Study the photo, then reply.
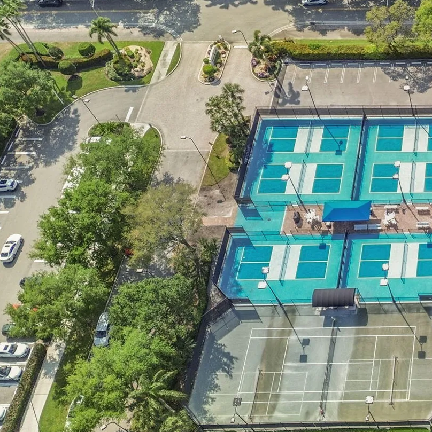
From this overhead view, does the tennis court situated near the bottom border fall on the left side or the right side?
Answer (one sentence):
The tennis court situated near the bottom border sits on the right side.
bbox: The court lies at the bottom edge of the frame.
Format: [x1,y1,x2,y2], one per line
[189,303,432,426]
